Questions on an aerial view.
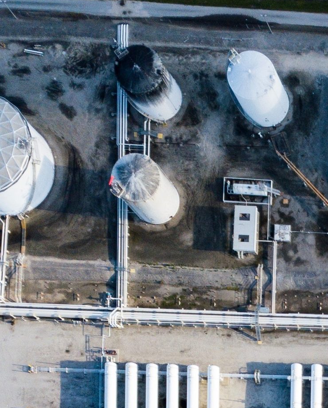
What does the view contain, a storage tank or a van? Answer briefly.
storage tank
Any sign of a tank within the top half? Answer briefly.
Yes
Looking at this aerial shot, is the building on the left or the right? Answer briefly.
right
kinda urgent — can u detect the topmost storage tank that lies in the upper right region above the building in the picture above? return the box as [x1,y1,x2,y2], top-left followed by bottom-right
[226,48,293,131]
